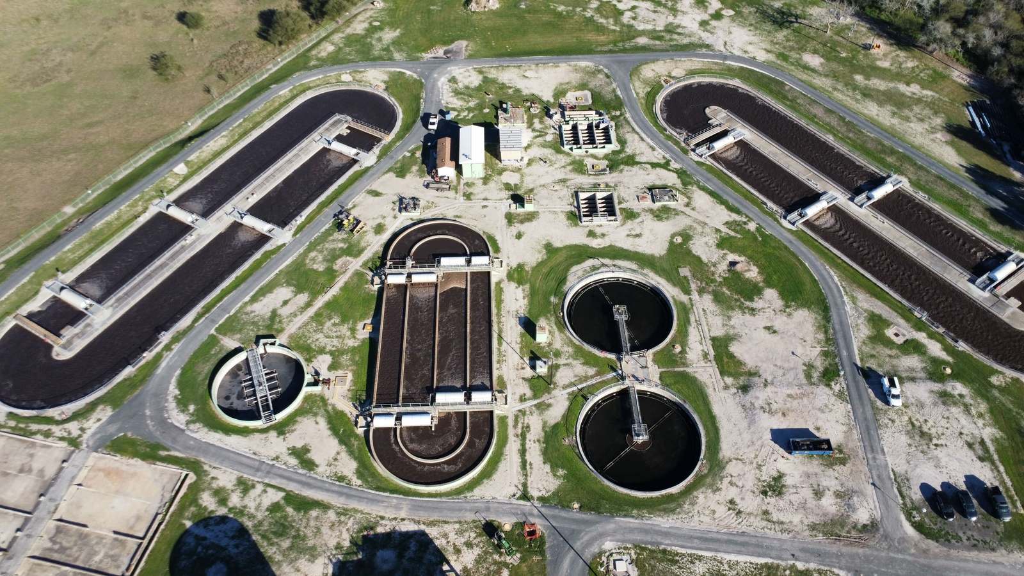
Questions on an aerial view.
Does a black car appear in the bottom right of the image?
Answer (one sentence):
Yes, a black car can be seen in the bottom right of the image.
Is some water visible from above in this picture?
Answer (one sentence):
Yes, some water is visible.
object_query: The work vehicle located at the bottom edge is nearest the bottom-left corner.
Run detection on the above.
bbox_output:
[490,528,517,561]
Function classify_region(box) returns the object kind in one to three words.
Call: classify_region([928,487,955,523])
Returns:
car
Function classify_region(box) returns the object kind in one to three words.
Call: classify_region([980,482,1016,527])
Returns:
truck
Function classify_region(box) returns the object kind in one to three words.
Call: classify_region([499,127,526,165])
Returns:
building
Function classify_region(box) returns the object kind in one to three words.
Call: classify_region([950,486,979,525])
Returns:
car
